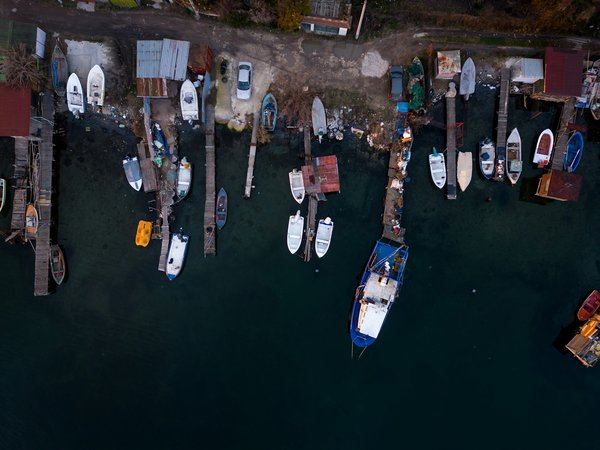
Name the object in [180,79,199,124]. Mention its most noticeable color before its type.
white boat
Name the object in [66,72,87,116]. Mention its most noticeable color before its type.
white boat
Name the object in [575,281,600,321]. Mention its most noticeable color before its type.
red boat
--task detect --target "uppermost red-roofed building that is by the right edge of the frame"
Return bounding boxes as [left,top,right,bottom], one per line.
[543,47,583,97]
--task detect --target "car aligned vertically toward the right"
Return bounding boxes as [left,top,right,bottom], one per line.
[388,66,405,100]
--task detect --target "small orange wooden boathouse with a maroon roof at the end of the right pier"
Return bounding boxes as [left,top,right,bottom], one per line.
[527,169,582,203]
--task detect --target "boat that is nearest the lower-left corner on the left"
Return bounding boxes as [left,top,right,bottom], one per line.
[49,244,65,286]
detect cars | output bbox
[234,62,251,100]
[388,66,405,100]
